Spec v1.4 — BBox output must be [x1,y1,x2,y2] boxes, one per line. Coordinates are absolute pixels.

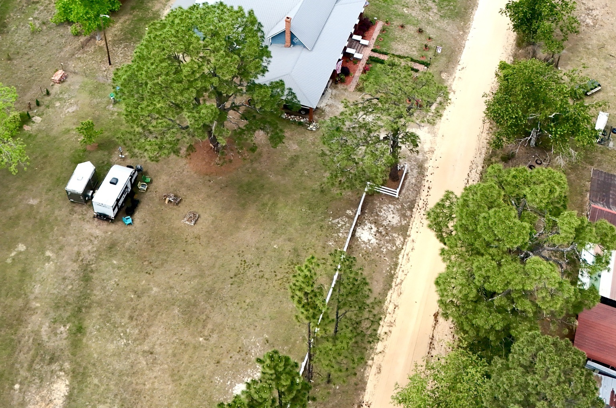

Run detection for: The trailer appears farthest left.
[64,160,97,204]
